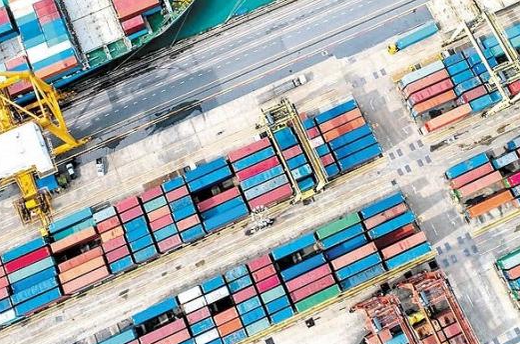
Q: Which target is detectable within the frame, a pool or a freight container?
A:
freight container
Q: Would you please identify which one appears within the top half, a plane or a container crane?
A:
container crane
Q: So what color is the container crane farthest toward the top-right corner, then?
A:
white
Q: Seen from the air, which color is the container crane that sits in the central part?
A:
white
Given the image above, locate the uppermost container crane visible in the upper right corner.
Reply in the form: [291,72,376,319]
[440,7,520,117]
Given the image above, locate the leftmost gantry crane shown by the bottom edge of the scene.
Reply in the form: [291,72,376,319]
[349,282,423,344]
